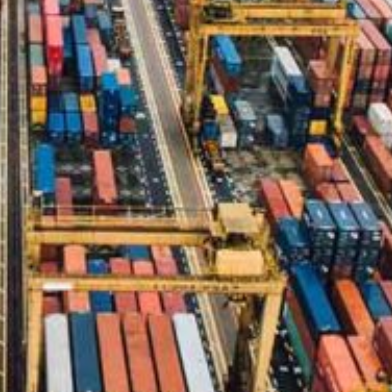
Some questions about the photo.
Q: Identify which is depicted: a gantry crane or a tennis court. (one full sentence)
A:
Visible in the photo is a gantry crane.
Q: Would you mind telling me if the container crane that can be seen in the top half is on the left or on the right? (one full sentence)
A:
The container crane that can be seen in the top half sits on the right side.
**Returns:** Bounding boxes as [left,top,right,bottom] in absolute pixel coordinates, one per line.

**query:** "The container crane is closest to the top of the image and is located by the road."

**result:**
[179,0,356,147]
